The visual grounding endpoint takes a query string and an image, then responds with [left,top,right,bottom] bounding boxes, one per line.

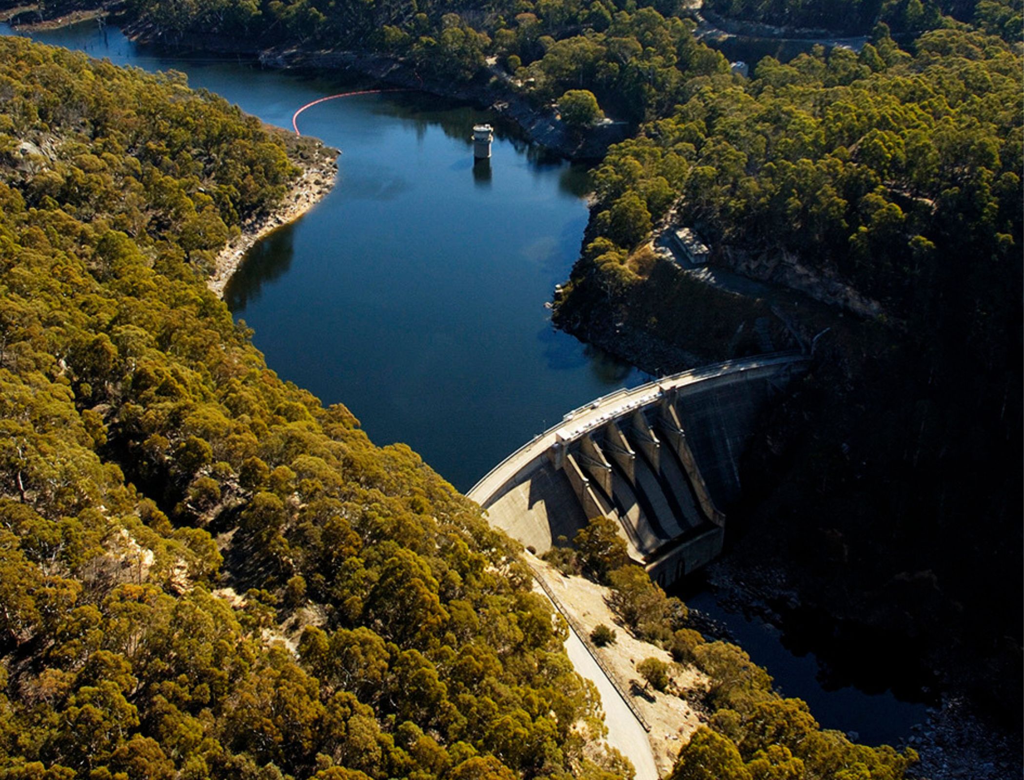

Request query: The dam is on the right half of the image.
[468,345,817,590]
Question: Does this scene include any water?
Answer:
Yes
